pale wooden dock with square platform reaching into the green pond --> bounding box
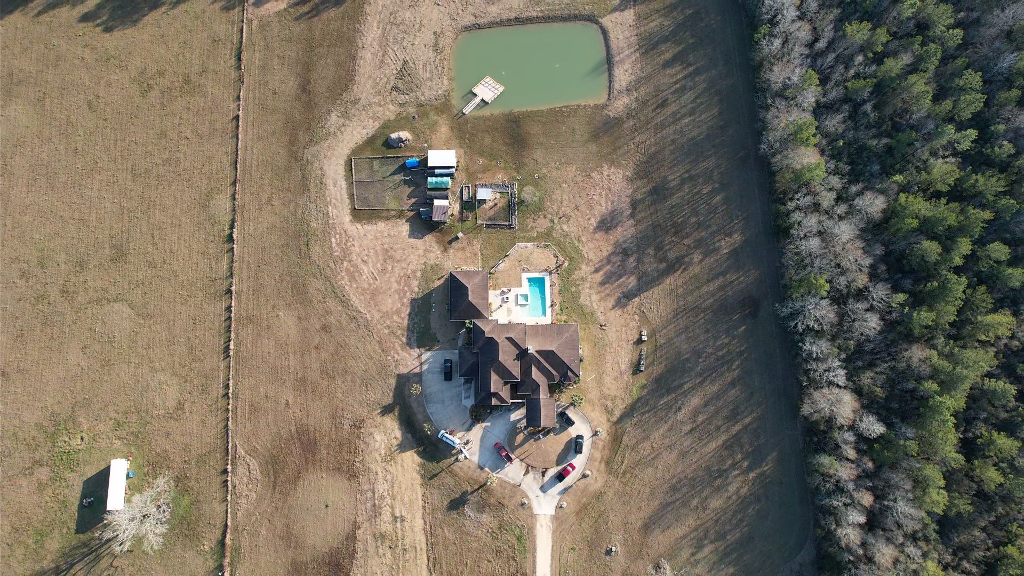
[463,73,501,115]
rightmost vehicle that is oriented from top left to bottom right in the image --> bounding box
[557,409,576,428]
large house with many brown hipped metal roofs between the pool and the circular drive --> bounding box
[458,320,580,429]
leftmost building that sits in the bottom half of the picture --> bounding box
[106,457,133,511]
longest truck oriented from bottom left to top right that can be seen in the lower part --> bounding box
[555,462,577,483]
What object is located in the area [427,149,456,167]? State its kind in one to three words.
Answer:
shed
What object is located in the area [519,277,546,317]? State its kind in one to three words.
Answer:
swimming pool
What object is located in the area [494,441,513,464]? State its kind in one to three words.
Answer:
vehicle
